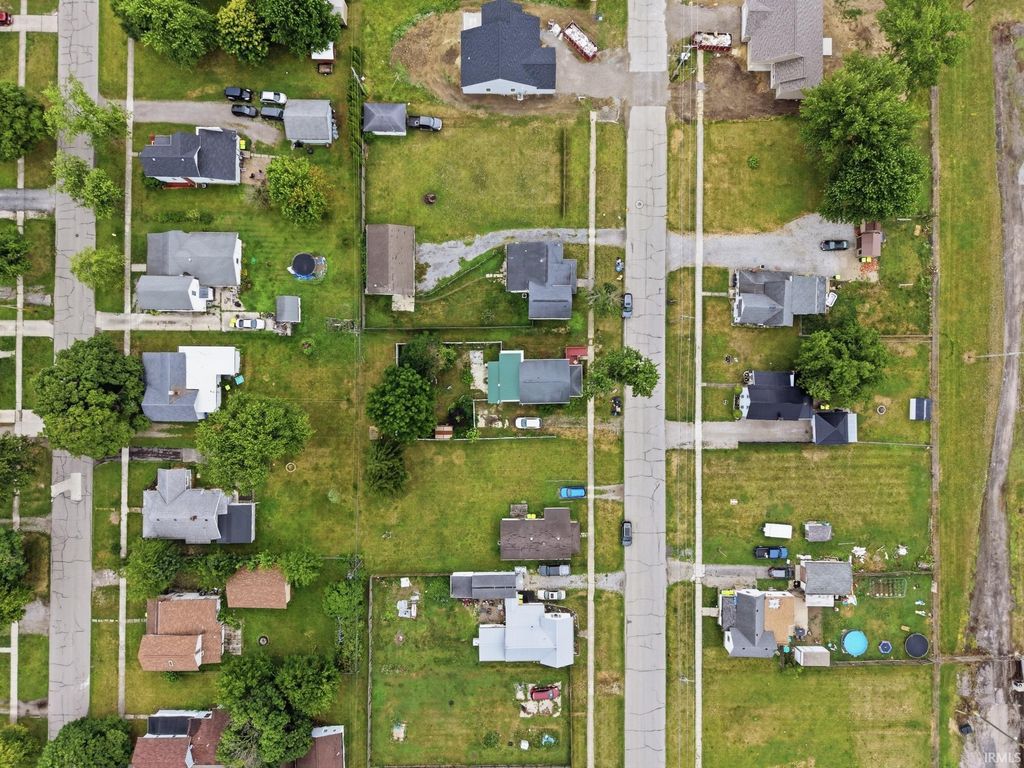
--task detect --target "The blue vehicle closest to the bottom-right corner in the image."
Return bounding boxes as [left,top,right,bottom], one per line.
[754,546,788,561]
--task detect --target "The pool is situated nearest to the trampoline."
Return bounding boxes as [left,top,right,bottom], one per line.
[838,629,869,657]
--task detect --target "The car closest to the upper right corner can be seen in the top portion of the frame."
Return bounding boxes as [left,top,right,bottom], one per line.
[819,238,849,252]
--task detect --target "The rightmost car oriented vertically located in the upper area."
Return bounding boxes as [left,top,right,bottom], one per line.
[620,292,634,320]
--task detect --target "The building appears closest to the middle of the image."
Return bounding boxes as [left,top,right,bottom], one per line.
[488,347,588,404]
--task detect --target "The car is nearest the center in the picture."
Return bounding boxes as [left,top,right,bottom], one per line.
[514,416,541,430]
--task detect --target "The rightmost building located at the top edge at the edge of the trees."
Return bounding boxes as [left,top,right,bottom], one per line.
[740,0,833,96]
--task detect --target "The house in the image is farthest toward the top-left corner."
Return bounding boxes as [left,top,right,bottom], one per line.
[136,128,243,190]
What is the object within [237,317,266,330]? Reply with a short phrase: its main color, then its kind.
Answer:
white vehicle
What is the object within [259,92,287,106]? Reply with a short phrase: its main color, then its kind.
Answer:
white car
